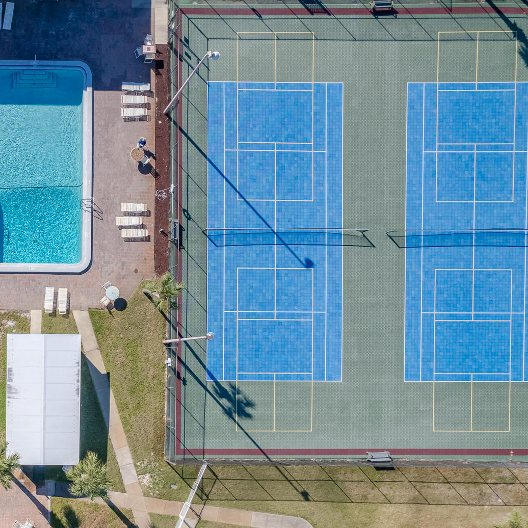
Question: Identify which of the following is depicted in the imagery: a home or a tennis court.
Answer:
tennis court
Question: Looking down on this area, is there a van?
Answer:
No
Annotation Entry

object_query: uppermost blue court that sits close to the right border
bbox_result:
[404,31,528,432]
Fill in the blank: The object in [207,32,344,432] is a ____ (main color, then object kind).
blue tennis court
